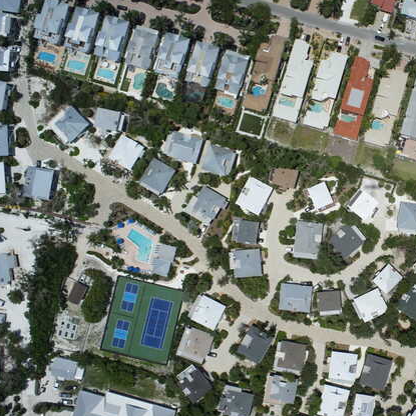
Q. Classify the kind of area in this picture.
residential area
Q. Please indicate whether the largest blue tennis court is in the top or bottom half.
bottom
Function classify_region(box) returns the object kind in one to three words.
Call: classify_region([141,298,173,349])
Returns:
tennis court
